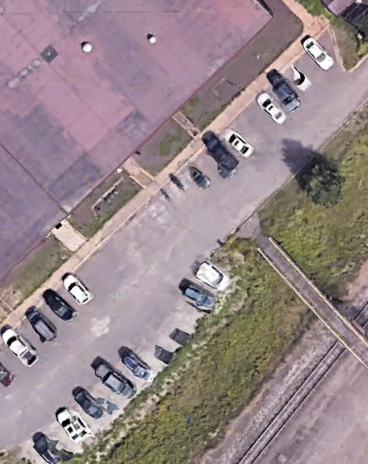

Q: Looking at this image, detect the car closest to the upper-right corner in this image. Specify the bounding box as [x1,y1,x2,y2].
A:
[299,35,335,72]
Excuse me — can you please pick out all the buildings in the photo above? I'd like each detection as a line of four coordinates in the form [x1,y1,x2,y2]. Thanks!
[324,0,368,46]
[0,0,279,289]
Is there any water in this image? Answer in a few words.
No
